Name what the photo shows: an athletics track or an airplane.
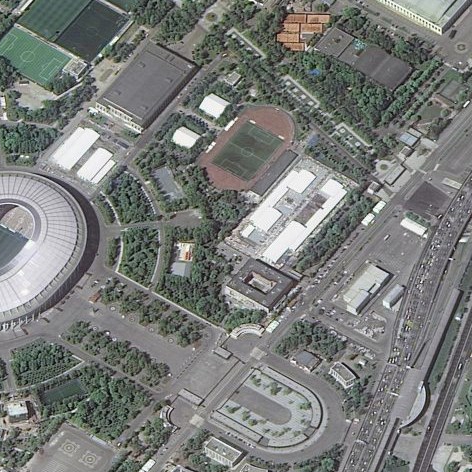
athletics track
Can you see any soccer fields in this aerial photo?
Yes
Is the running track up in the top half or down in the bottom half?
top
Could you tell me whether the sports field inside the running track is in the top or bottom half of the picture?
top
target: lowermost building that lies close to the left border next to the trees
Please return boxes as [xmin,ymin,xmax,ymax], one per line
[8,402,27,422]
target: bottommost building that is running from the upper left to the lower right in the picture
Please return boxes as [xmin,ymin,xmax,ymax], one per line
[206,437,243,466]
